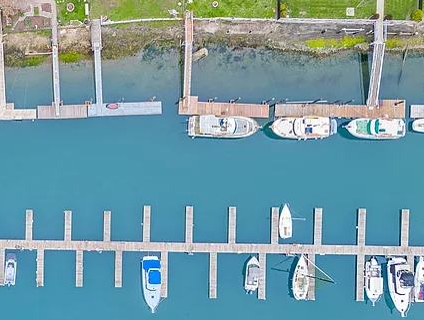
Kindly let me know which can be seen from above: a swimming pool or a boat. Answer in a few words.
boat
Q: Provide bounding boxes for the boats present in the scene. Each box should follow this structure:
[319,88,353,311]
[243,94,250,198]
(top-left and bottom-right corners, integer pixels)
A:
[279,205,298,237]
[142,251,162,315]
[414,258,424,301]
[384,254,416,318]
[343,113,408,137]
[292,254,332,300]
[410,118,424,133]
[268,116,334,140]
[184,113,262,138]
[362,258,385,304]
[243,258,259,292]
[4,253,16,286]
